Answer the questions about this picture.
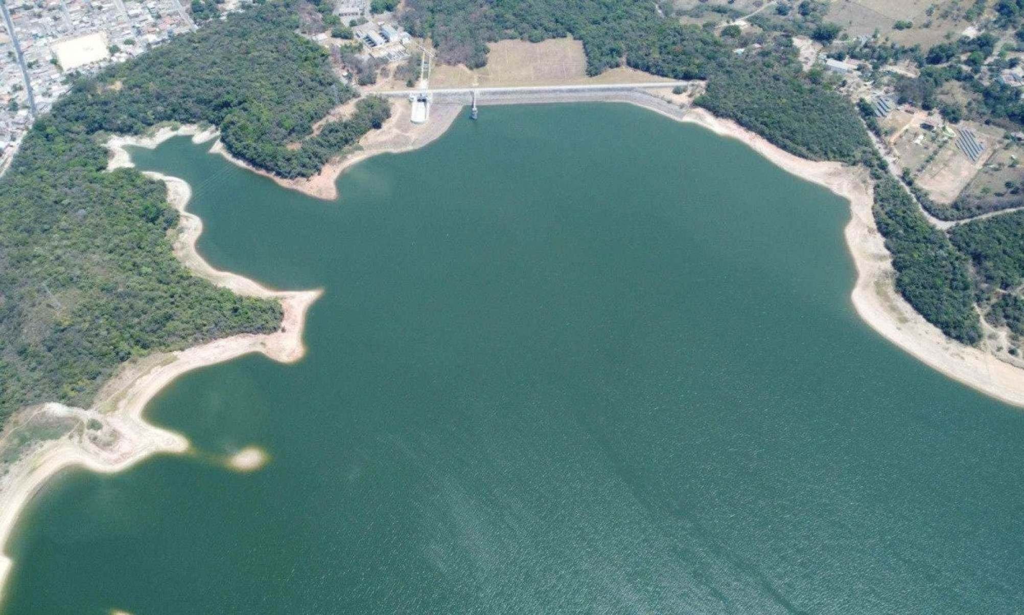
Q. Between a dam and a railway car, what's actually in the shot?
dam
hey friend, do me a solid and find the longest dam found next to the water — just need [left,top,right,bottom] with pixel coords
[371,36,702,108]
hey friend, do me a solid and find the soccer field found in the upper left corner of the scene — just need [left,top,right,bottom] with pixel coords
[58,34,109,71]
